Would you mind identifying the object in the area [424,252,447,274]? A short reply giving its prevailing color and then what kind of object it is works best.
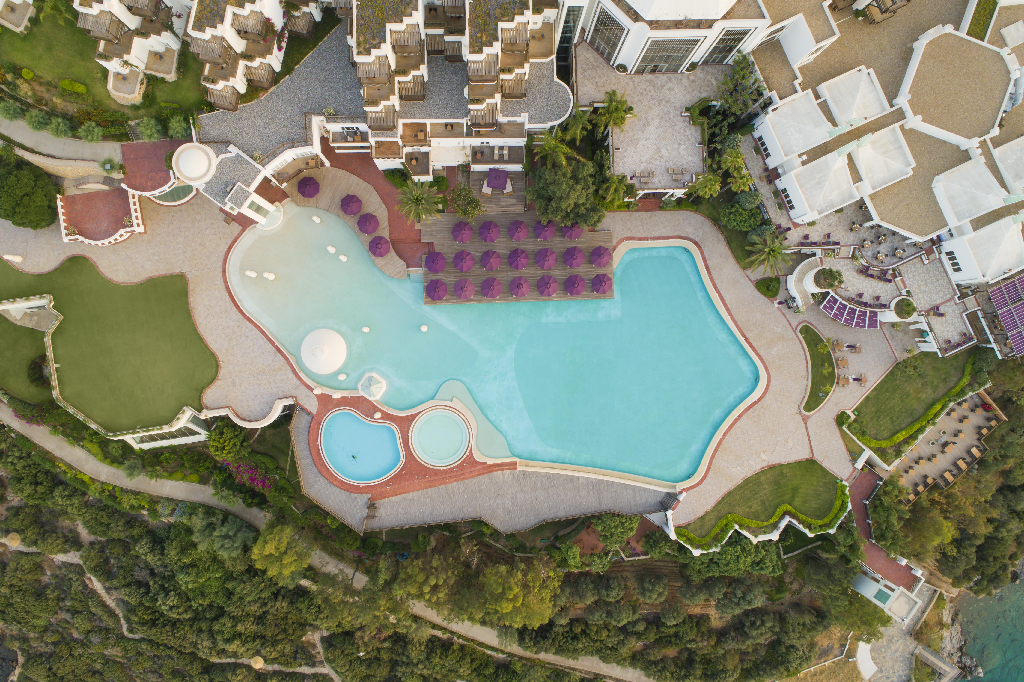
purple umbrella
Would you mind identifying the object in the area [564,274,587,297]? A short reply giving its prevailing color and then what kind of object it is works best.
purple umbrella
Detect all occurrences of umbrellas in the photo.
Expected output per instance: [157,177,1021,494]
[425,278,448,301]
[509,276,532,299]
[537,275,559,297]
[507,248,530,270]
[564,274,587,297]
[424,252,447,274]
[358,213,380,235]
[298,176,320,198]
[849,375,864,383]
[563,246,585,268]
[452,222,473,243]
[590,245,612,268]
[487,169,508,191]
[452,250,474,272]
[590,272,612,295]
[562,222,583,242]
[479,222,500,243]
[774,300,788,307]
[340,194,363,217]
[454,278,476,301]
[369,235,392,257]
[480,277,502,299]
[479,248,502,271]
[535,248,557,270]
[508,219,530,241]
